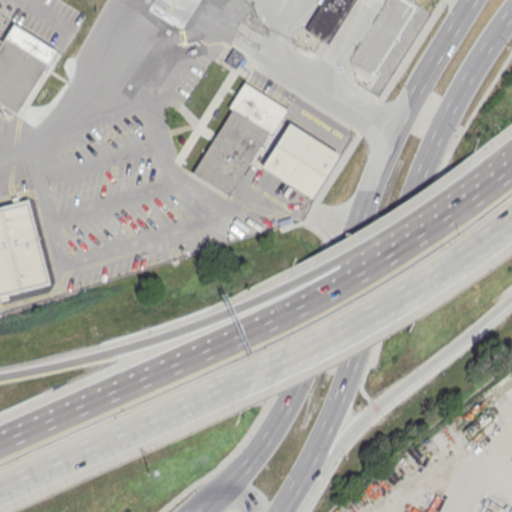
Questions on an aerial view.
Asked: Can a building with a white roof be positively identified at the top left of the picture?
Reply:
Yes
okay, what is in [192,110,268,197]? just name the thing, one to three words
building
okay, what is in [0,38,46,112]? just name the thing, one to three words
building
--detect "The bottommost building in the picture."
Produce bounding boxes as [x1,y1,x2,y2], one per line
[0,194,54,303]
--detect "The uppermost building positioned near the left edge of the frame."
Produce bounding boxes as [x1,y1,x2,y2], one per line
[4,22,58,64]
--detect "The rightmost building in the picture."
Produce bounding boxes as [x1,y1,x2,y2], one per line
[304,0,358,44]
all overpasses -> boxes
[228,144,486,418]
